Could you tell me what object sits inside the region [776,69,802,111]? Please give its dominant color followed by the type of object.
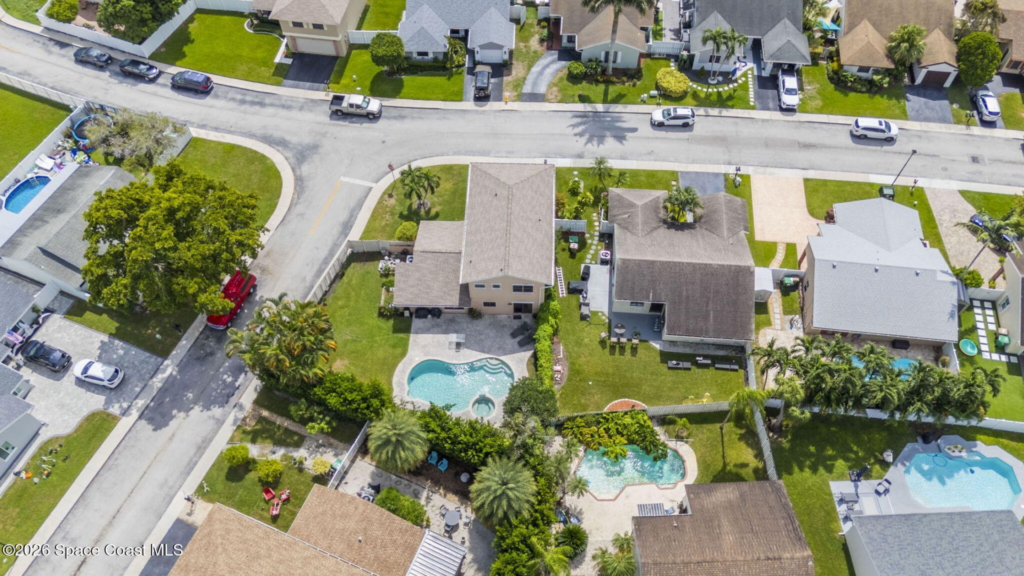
white truck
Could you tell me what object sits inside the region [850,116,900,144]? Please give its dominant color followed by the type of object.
white car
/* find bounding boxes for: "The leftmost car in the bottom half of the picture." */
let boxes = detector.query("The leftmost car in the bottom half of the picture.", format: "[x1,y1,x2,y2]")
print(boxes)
[18,337,77,377]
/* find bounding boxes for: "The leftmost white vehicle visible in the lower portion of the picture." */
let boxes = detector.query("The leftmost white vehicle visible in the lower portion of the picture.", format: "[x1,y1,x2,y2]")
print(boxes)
[70,356,130,393]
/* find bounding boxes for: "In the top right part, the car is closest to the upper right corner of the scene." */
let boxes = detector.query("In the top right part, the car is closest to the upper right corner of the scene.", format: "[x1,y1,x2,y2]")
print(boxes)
[969,92,1002,123]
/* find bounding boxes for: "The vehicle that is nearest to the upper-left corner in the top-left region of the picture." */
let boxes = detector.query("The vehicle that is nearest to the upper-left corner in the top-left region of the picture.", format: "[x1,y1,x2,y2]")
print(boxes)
[71,46,117,69]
